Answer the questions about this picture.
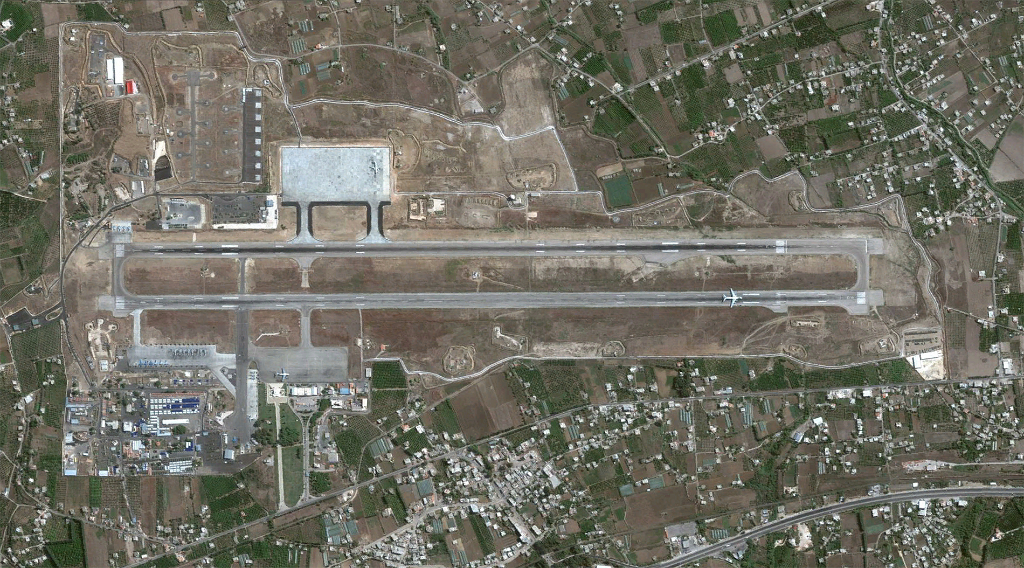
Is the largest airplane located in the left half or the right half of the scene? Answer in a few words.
right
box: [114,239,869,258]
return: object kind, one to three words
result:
runway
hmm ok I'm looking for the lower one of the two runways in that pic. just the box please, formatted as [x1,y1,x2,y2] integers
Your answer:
[114,291,869,310]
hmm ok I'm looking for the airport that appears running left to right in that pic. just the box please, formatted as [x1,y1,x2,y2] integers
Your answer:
[99,71,883,452]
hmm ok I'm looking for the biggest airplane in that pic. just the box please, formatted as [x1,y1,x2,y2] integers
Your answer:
[722,288,742,308]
